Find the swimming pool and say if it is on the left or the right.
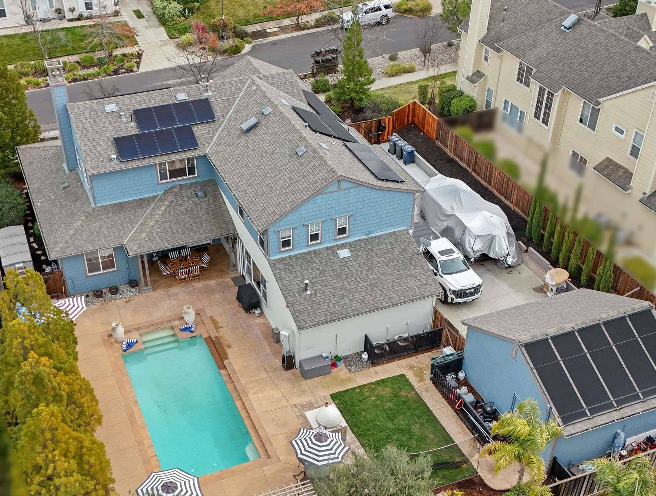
left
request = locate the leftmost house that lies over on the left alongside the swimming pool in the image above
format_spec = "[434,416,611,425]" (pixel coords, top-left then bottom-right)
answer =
[17,52,446,368]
